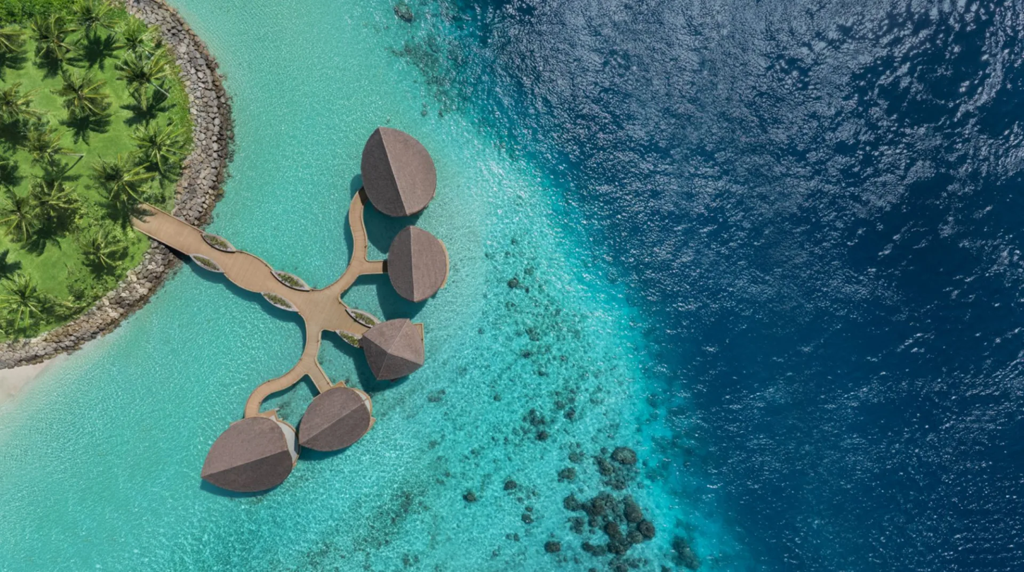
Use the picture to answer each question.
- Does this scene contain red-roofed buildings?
No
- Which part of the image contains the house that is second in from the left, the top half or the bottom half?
bottom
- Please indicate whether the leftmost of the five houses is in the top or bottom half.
bottom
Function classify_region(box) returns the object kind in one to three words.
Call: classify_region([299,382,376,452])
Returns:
house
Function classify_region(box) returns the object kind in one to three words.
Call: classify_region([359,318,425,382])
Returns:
house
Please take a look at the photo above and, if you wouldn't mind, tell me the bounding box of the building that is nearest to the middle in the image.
[388,225,449,303]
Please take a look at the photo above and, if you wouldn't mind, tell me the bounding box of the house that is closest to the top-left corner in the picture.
[361,126,437,216]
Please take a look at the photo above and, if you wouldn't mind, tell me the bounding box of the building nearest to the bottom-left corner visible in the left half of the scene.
[201,407,301,492]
